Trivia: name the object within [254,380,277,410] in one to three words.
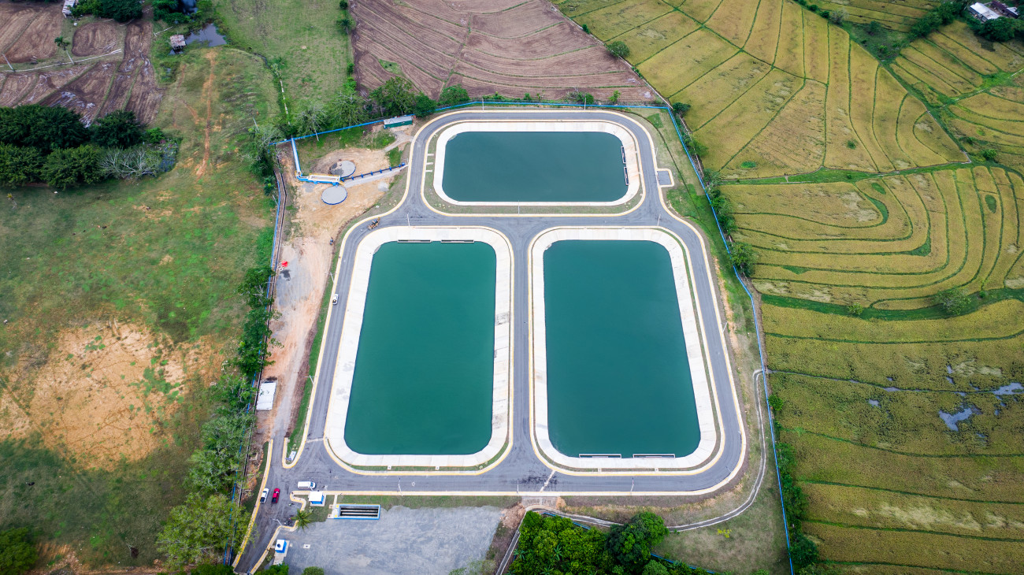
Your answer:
building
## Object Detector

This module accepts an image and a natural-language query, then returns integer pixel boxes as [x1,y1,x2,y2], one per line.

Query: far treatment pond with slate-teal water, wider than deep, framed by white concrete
[433,122,639,206]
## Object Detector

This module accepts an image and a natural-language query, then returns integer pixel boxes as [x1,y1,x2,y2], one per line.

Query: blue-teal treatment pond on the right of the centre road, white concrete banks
[532,228,717,468]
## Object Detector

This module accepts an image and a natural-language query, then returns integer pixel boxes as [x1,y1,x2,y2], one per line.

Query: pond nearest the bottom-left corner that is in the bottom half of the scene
[328,228,510,467]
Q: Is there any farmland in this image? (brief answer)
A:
Yes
